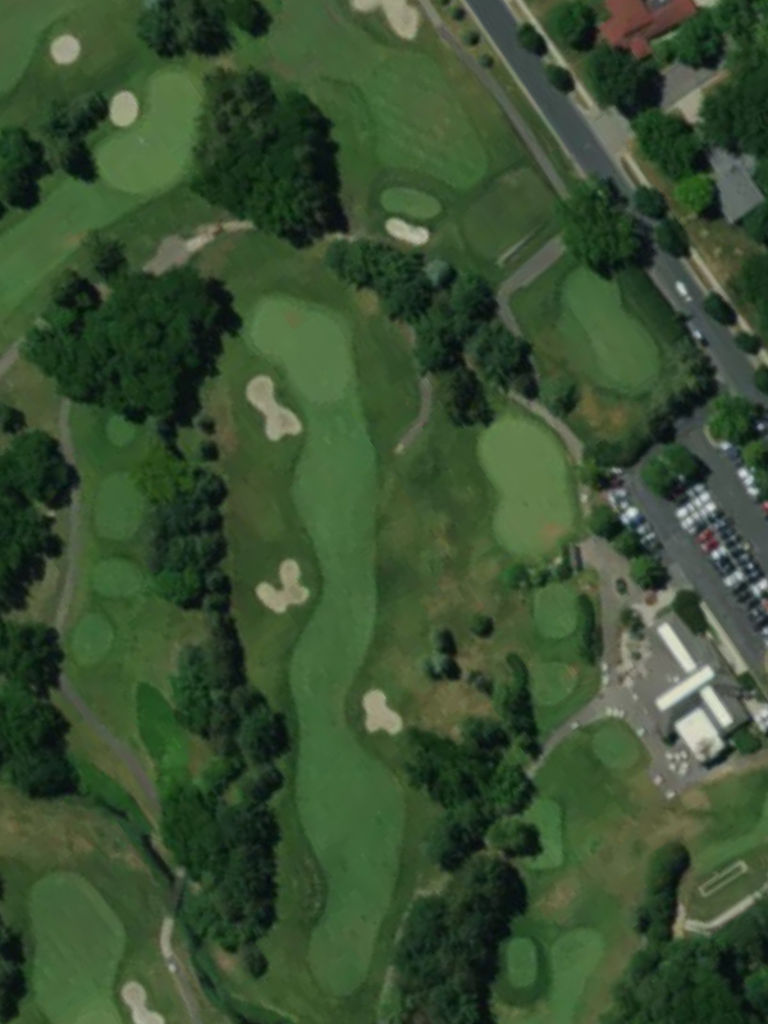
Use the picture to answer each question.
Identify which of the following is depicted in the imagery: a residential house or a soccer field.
residential house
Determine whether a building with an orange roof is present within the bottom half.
No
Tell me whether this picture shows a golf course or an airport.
golf course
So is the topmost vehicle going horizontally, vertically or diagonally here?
diagonally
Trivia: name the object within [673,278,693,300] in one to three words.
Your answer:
vehicle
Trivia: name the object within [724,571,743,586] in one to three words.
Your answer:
car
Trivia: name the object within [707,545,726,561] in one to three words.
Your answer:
car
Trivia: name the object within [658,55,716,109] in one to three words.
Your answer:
house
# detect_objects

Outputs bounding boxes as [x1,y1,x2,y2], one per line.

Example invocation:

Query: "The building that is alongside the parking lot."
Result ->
[648,608,755,761]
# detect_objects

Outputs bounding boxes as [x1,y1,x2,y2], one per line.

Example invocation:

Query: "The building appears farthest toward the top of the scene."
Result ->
[602,0,699,58]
